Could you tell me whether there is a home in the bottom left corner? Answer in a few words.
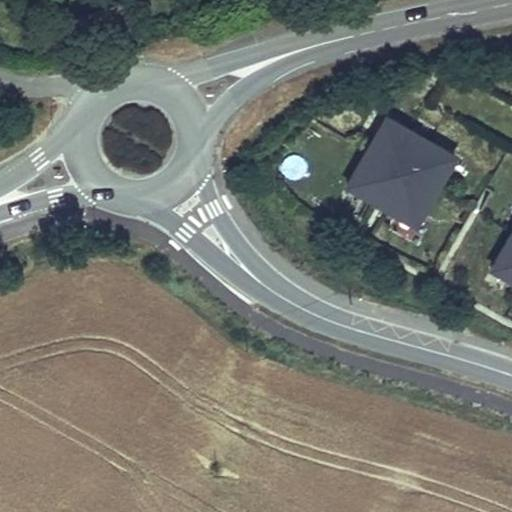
No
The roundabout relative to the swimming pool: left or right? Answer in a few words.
to the left of it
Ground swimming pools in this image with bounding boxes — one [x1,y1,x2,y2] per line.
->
[276,152,310,182]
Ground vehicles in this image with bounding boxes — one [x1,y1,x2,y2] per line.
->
[92,190,114,200]
[405,8,427,20]
[8,201,31,214]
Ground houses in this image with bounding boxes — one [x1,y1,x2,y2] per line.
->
[345,116,457,228]
[489,232,512,282]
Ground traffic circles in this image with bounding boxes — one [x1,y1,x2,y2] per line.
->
[61,62,215,216]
